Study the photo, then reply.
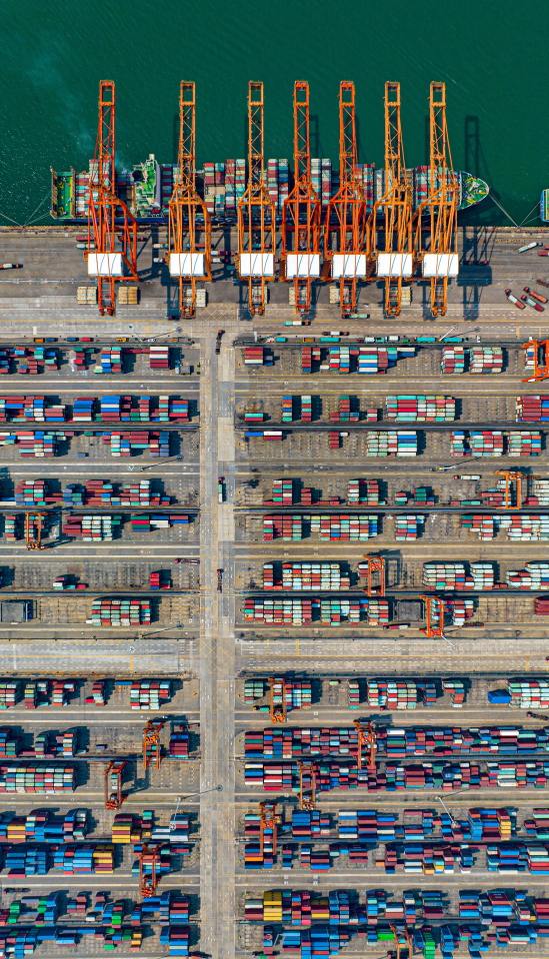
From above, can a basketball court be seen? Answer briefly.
No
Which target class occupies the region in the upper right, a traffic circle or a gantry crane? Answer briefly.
gantry crane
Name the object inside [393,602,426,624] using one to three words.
shed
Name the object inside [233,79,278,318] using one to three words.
container crane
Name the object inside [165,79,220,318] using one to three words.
container crane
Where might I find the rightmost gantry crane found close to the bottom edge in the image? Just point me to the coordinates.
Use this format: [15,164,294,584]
[384,923,408,959]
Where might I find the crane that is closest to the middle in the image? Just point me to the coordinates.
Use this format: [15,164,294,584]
[360,553,382,598]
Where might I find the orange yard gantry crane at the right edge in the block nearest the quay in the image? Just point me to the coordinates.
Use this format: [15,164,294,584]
[515,334,546,383]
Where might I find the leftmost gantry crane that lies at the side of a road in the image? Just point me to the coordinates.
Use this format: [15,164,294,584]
[26,510,55,558]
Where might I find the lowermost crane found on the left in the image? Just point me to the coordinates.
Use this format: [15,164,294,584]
[141,841,165,904]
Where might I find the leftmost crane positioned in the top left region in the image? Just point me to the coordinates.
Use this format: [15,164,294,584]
[84,79,149,318]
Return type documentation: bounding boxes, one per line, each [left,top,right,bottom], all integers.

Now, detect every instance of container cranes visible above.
[26,510,55,558]
[415,595,440,643]
[351,716,375,770]
[490,470,519,514]
[84,79,149,318]
[403,79,457,318]
[141,841,165,904]
[233,79,278,318]
[267,677,288,731]
[515,334,546,383]
[362,79,410,318]
[277,79,319,318]
[258,804,278,863]
[384,923,408,959]
[107,757,133,814]
[143,716,168,770]
[295,757,316,815]
[319,79,365,318]
[165,79,220,318]
[360,553,382,598]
